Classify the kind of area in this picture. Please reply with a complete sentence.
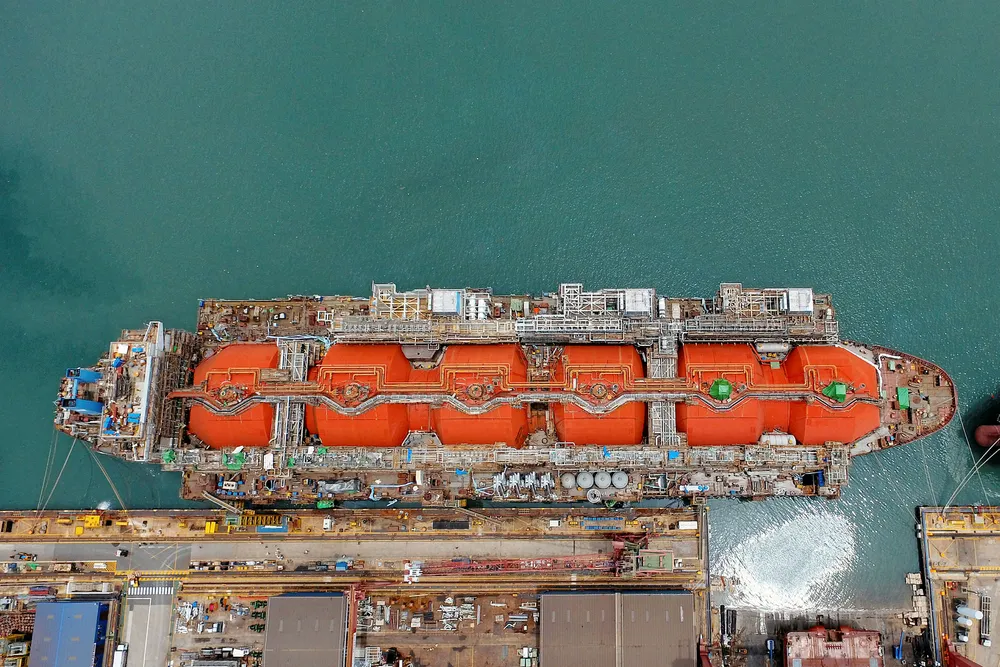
The area seen from above is a port.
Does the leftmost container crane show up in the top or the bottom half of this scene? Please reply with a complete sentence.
It is in the bottom half that the leftmost container crane appears.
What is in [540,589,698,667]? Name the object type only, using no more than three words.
building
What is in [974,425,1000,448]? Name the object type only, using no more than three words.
ship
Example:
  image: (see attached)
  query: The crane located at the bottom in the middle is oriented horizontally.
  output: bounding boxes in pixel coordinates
[403,534,674,584]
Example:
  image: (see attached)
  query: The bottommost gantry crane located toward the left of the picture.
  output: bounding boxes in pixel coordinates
[341,579,404,667]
